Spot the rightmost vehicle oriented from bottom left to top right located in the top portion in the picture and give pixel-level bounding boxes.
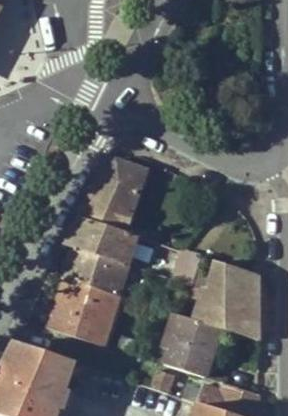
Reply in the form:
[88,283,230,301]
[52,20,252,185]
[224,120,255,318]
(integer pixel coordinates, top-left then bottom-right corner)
[115,86,136,108]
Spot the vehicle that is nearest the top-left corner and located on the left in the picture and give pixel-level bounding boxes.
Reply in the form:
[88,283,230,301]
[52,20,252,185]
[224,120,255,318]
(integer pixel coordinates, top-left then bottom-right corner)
[39,16,55,50]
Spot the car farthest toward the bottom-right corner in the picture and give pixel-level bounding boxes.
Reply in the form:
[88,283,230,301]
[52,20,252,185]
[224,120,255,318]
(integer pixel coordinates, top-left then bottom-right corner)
[234,372,256,386]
